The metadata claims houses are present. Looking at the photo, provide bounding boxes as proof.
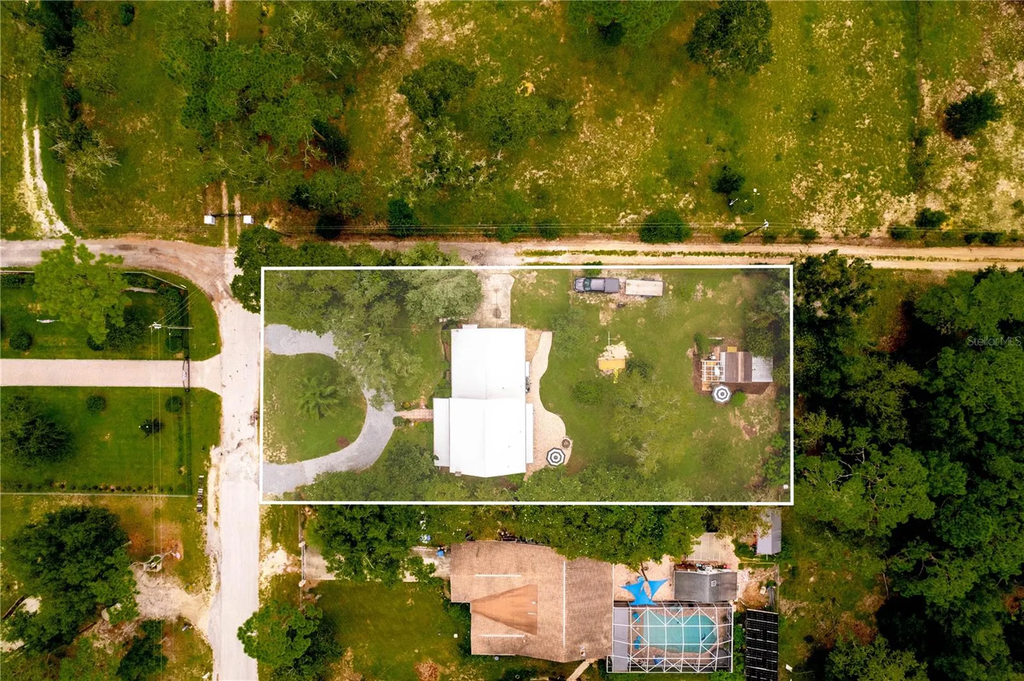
[449,538,614,663]
[434,324,533,477]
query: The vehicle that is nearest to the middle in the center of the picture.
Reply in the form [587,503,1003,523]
[573,275,621,294]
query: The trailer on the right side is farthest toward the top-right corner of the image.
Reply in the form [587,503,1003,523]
[621,278,664,298]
